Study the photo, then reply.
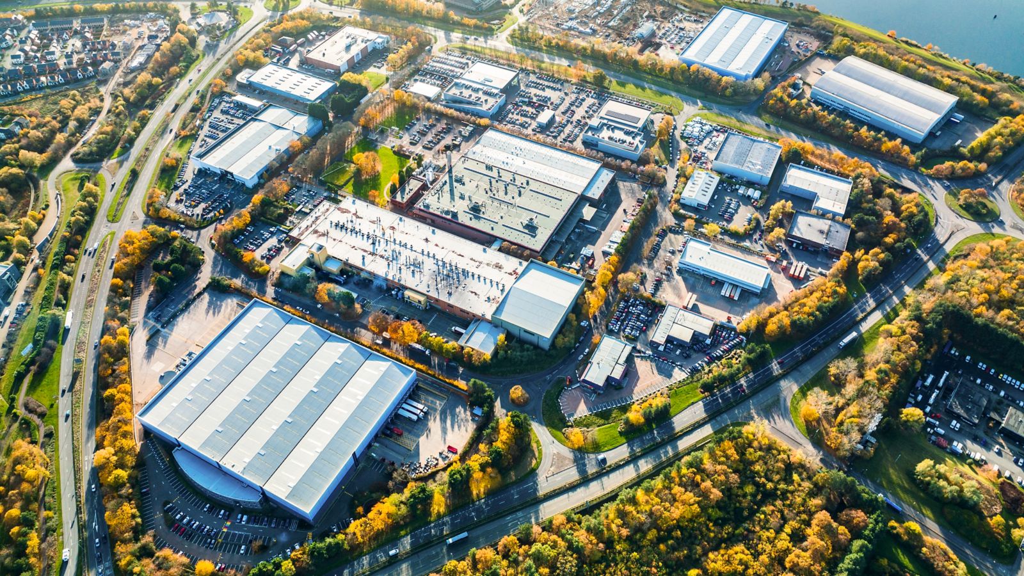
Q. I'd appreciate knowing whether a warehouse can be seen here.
Yes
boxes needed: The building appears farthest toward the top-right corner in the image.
[809,57,960,140]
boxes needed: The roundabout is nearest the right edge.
[924,178,1024,236]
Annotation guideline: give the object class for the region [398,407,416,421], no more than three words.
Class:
vehicle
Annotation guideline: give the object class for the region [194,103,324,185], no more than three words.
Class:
building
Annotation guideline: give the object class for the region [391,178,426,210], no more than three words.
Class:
house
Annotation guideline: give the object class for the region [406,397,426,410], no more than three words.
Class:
vehicle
